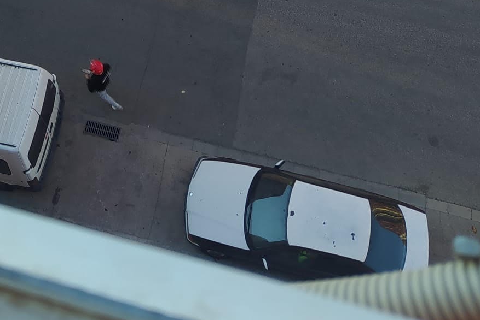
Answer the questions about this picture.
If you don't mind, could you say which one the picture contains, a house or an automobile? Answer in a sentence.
This aerial view contains an automobile.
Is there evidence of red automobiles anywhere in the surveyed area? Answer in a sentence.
No, there's no red automobile here.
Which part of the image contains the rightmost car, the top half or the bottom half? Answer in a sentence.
The rightmost car sits in the bottom half of the picture.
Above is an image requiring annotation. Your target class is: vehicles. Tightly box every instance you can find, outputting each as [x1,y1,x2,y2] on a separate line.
[0,64,71,188]
[174,151,432,282]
